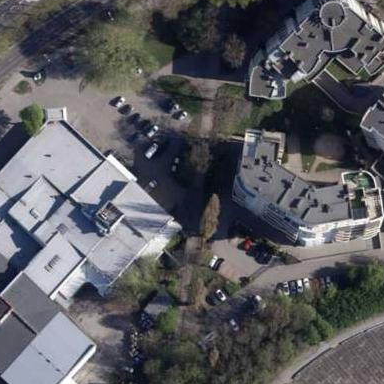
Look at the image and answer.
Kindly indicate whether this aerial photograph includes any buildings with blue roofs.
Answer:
No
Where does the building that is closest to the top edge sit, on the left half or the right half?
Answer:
right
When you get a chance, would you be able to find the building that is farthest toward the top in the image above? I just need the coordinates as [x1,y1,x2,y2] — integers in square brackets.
[250,0,384,105]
